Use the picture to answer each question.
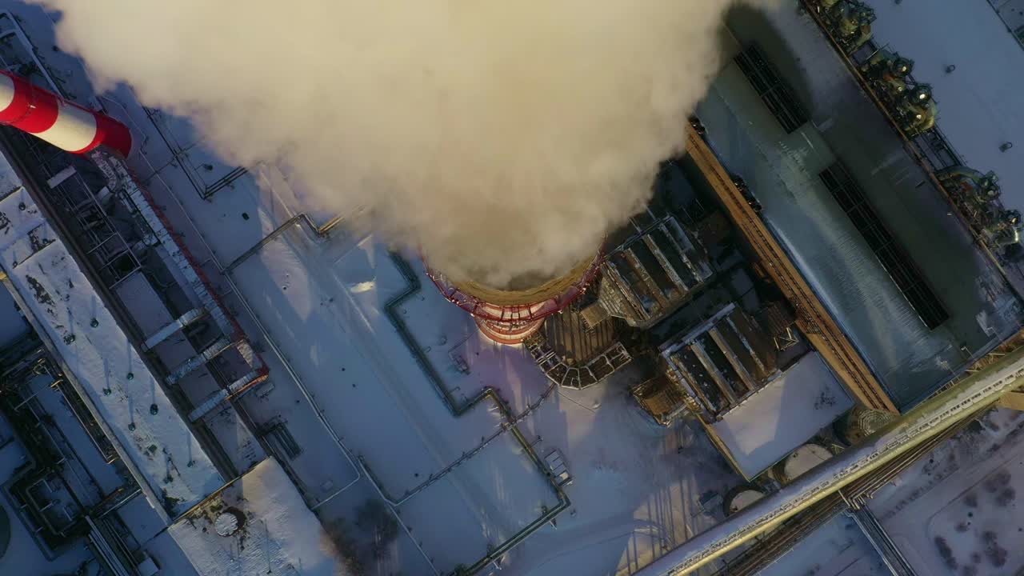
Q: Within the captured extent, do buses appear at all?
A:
No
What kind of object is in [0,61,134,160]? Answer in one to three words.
chimney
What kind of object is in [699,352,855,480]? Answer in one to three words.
building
